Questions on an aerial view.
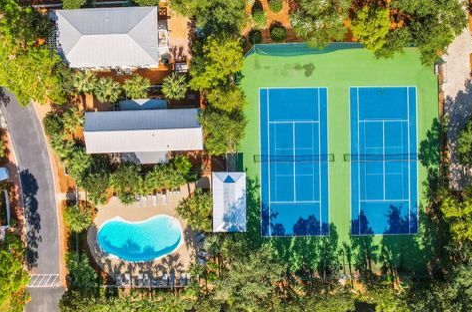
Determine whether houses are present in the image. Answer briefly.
Yes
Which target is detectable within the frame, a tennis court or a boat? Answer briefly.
tennis court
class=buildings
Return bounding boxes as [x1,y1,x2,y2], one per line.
[56,8,173,71]
[78,101,203,164]
[213,172,246,232]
